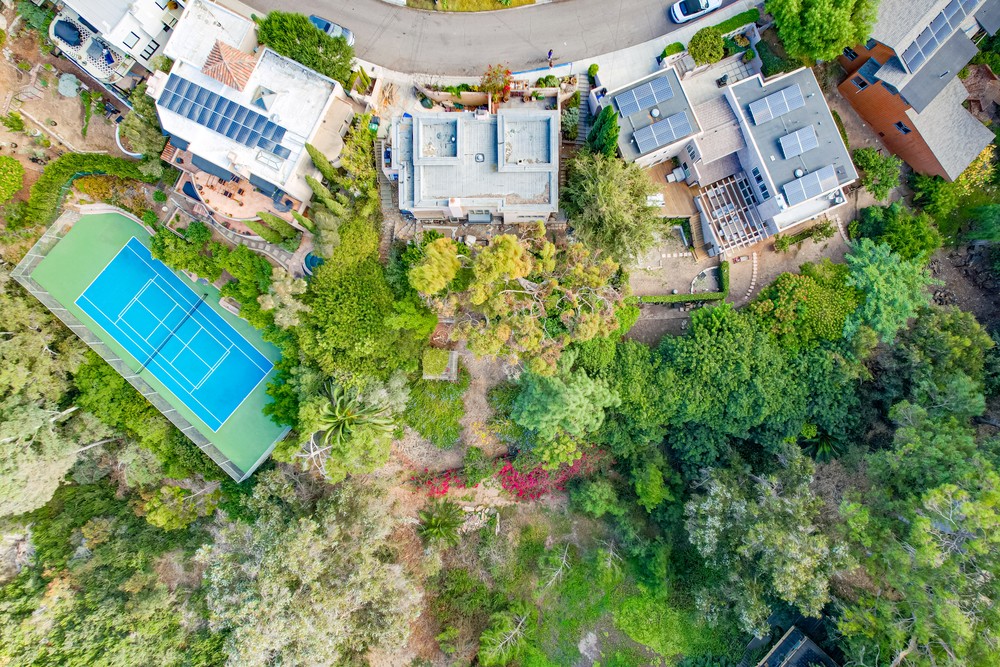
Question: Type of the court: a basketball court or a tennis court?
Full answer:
It turns out the court is a tennis court.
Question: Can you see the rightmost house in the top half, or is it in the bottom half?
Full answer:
It is in the top half that the rightmost house appears.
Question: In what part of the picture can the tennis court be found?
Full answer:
Look in the left portion of the view to spot the tennis court.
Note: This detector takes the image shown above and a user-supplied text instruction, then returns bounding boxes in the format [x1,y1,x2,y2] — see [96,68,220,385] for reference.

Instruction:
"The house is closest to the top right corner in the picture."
[842,0,1000,183]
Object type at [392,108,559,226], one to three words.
house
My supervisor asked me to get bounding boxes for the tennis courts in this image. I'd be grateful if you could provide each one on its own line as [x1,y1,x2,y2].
[31,209,294,470]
